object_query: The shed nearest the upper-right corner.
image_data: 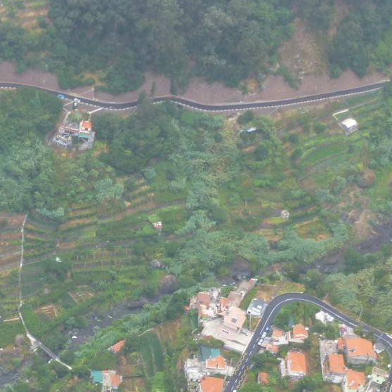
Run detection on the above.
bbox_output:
[334,115,357,136]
